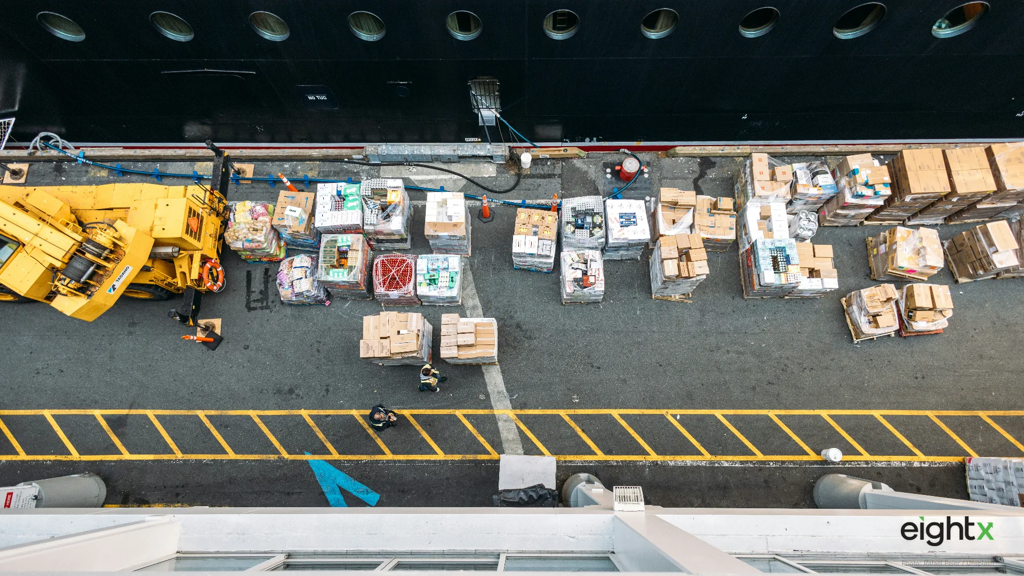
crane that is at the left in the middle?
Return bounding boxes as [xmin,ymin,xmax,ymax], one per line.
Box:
[0,139,248,336]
